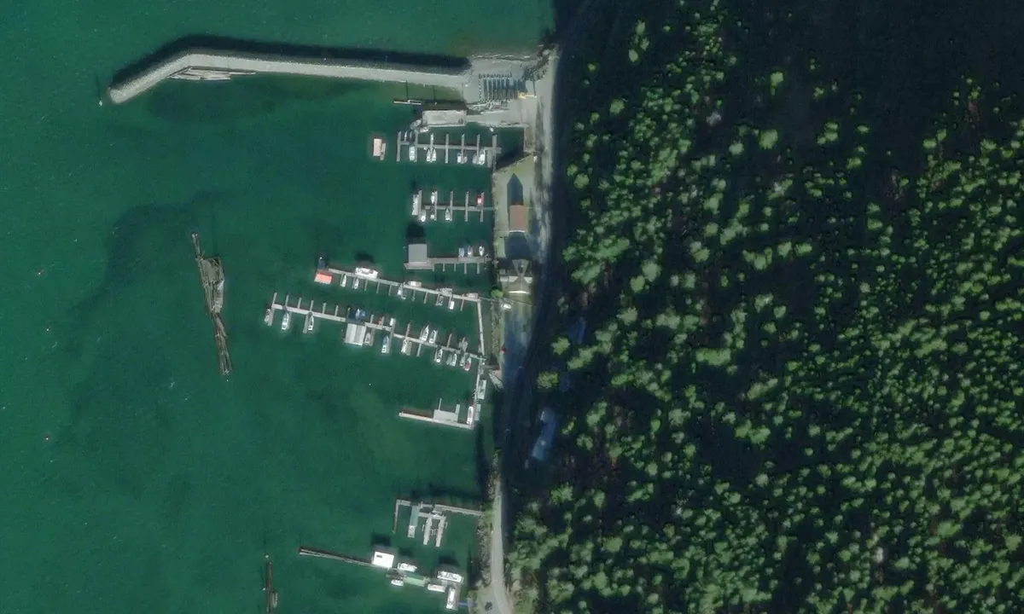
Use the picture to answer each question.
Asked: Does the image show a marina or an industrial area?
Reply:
marina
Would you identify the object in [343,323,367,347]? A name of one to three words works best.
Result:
building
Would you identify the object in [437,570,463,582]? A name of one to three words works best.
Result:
boat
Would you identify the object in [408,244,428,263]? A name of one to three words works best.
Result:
building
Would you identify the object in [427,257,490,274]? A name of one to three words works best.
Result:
pier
